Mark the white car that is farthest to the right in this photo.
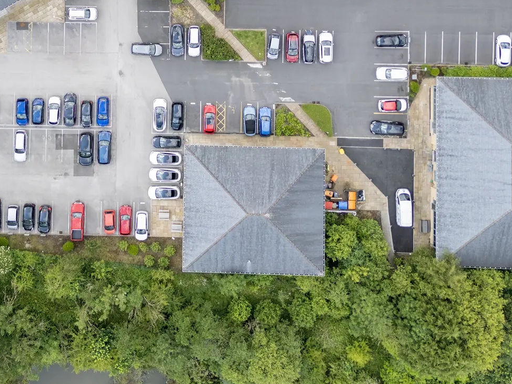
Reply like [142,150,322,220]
[495,34,512,66]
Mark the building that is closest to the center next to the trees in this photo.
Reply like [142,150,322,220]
[181,143,327,277]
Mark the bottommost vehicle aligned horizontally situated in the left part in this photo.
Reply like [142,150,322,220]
[148,185,180,201]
